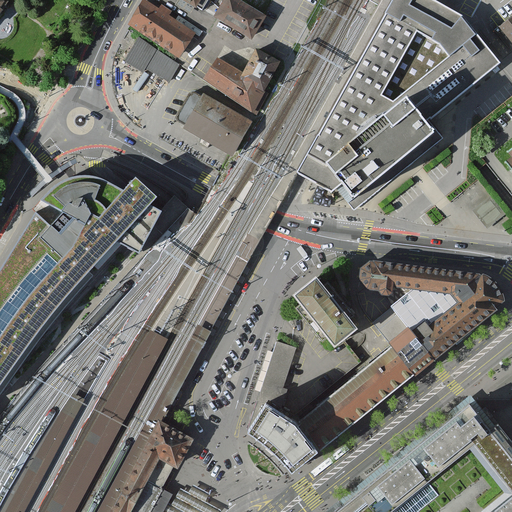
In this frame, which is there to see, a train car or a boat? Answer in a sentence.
The image shows a train car.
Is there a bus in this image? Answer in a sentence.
Yes, you can see a bus in this photo.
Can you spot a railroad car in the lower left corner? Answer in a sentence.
Yes, a railroad car shows up in the lower left corner.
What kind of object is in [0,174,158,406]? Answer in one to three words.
building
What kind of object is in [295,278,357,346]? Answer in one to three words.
house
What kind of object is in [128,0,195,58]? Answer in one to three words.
house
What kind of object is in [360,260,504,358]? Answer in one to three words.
building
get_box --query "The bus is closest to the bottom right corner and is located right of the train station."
[308,445,350,478]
